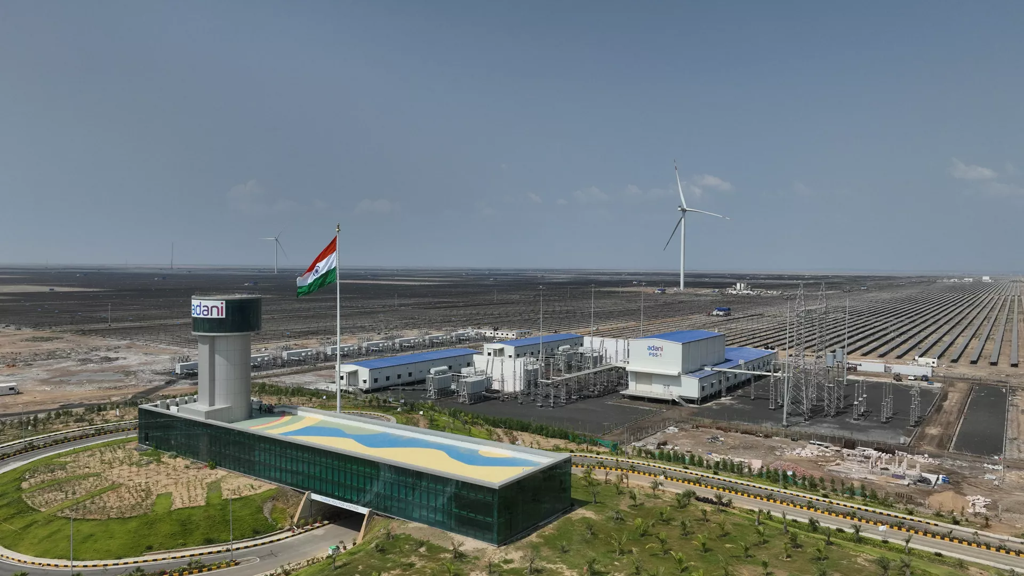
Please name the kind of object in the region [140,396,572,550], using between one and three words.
building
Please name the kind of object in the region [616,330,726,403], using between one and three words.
building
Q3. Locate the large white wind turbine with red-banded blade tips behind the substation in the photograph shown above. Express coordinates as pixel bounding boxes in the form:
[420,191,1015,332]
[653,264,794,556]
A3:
[662,162,729,291]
